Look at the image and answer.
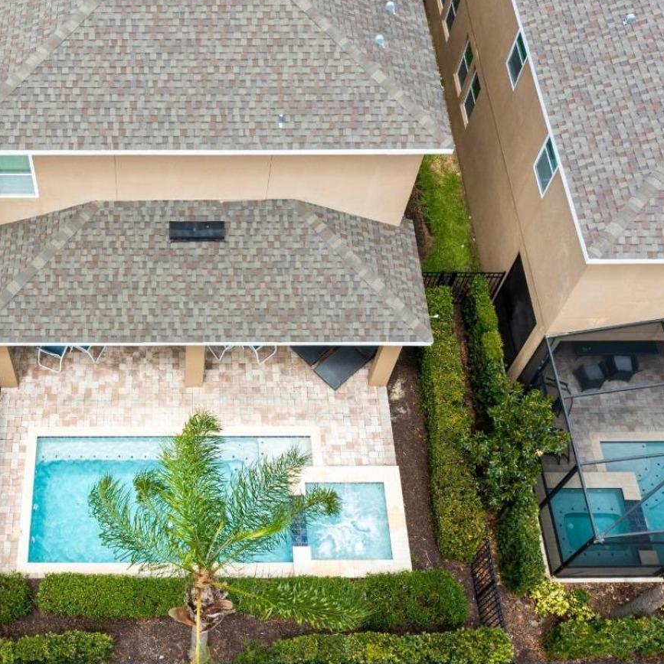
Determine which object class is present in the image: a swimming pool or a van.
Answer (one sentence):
Visible in the photo is a swimming pool.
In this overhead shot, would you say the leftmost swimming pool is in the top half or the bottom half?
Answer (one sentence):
The leftmost swimming pool sits in the bottom half of the picture.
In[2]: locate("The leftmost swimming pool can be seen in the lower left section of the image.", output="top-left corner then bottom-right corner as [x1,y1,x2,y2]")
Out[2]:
[18,428,322,574]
